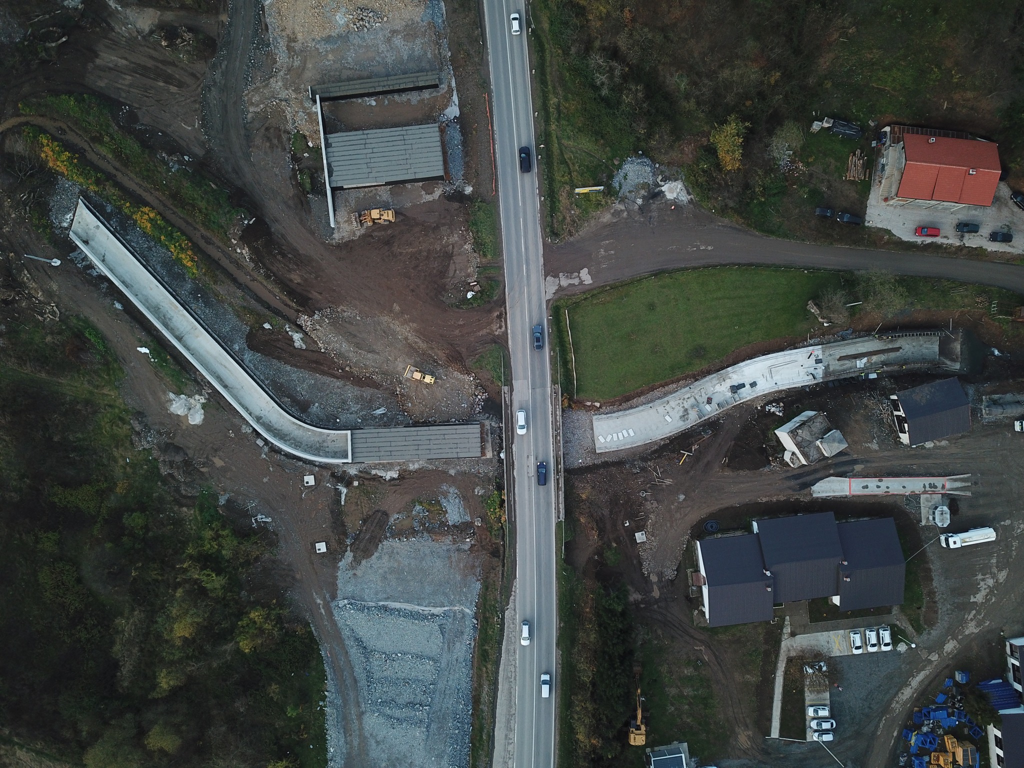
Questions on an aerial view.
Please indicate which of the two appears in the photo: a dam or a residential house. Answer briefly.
residential house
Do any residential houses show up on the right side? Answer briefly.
Yes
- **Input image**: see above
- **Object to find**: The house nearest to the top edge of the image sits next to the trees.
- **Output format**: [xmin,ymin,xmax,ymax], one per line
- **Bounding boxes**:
[866,126,1002,218]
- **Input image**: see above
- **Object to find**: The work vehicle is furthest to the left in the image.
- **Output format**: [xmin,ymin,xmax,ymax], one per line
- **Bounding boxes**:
[349,206,396,227]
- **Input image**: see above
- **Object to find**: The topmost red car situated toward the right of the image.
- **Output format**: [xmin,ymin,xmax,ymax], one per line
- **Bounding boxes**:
[914,225,940,238]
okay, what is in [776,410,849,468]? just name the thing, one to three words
house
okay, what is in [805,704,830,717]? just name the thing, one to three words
vehicle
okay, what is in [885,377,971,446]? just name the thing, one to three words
barn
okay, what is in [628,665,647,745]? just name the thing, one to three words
work vehicle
